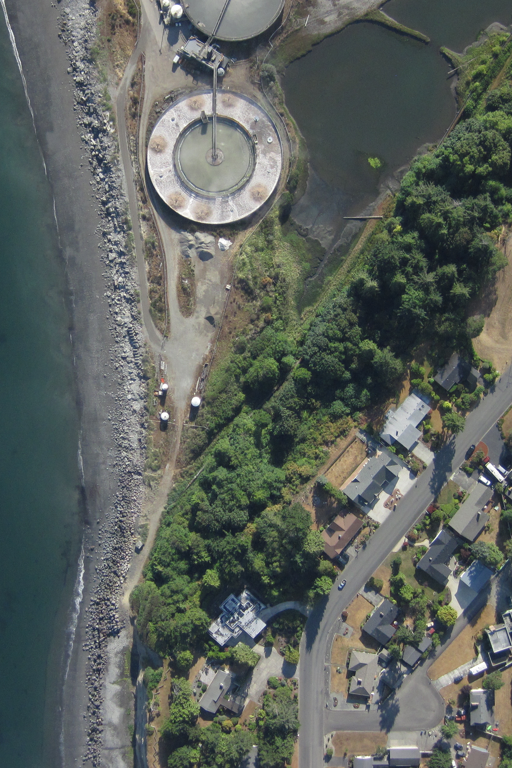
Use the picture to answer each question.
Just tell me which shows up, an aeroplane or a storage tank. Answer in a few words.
storage tank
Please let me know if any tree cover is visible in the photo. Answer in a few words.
Yes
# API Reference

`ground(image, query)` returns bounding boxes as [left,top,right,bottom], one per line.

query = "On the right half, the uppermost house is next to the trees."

[436,353,483,390]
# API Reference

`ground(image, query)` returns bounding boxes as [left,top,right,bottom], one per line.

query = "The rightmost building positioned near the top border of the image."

[178,33,234,72]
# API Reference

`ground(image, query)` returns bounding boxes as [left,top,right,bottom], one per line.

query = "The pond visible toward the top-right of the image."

[281,0,512,208]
